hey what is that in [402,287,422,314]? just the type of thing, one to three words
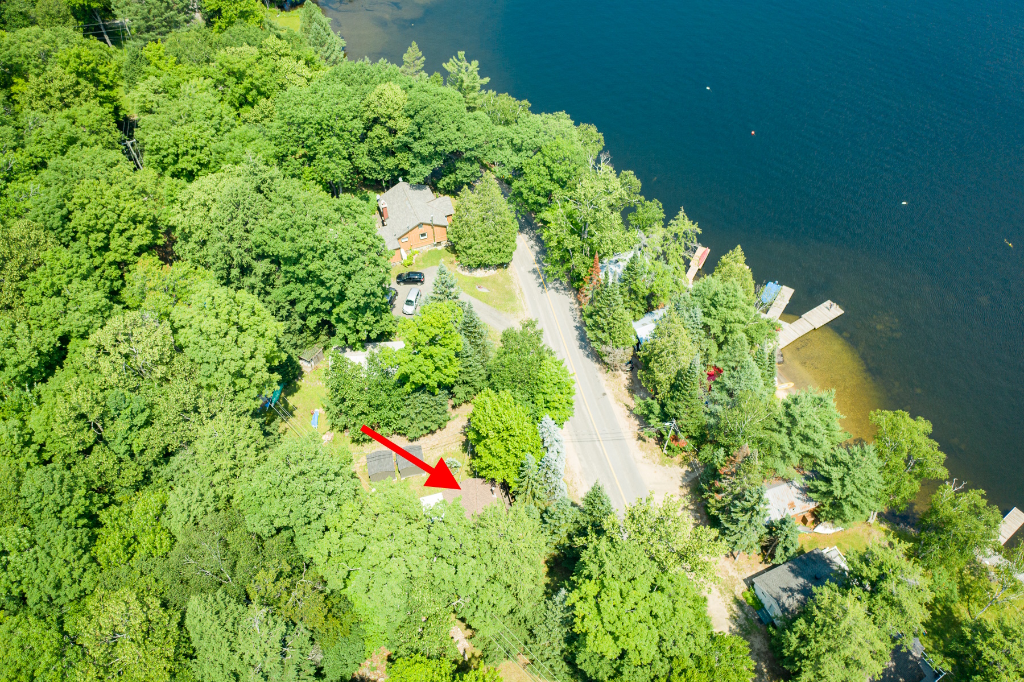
car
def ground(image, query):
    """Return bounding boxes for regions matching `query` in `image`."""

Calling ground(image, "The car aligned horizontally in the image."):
[395,271,425,285]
